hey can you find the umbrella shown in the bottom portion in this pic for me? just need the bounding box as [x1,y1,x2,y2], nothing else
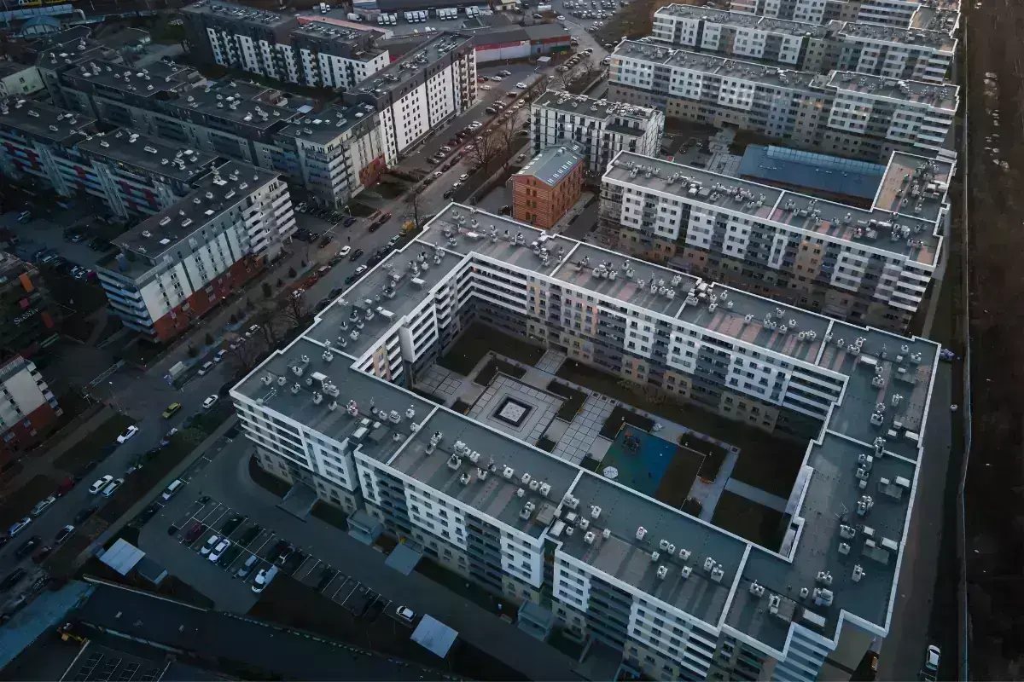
[601,460,623,478]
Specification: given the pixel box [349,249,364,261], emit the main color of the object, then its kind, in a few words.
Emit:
black vehicle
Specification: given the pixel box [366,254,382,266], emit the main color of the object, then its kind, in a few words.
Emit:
black vehicle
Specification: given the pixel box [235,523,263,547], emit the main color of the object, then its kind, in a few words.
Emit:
black car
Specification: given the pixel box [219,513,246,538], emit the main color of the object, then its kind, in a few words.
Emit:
black car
